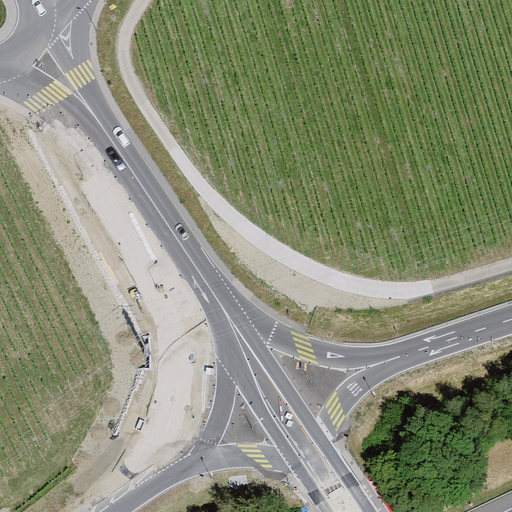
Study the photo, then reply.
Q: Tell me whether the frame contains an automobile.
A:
Yes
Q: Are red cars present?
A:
No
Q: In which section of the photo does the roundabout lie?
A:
top left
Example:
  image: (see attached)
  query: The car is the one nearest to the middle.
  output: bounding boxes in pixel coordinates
[174,222,189,241]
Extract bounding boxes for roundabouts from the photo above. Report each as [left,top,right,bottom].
[0,0,104,116]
